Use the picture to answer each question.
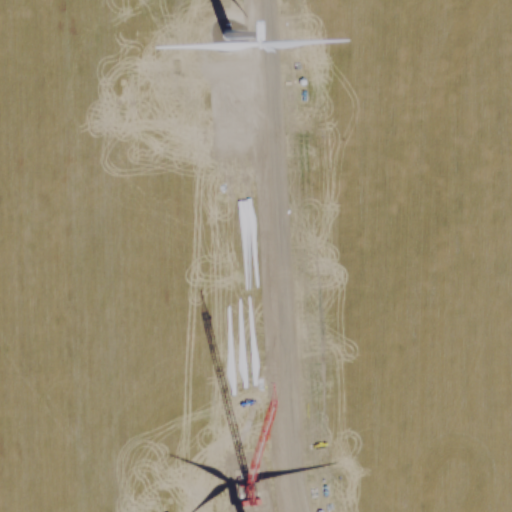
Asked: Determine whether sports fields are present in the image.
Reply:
No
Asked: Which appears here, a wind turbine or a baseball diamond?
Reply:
wind turbine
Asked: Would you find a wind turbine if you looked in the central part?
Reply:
No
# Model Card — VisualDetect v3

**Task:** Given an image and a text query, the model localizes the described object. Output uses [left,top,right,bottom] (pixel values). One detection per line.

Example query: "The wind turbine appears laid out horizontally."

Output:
[158,18,348,51]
